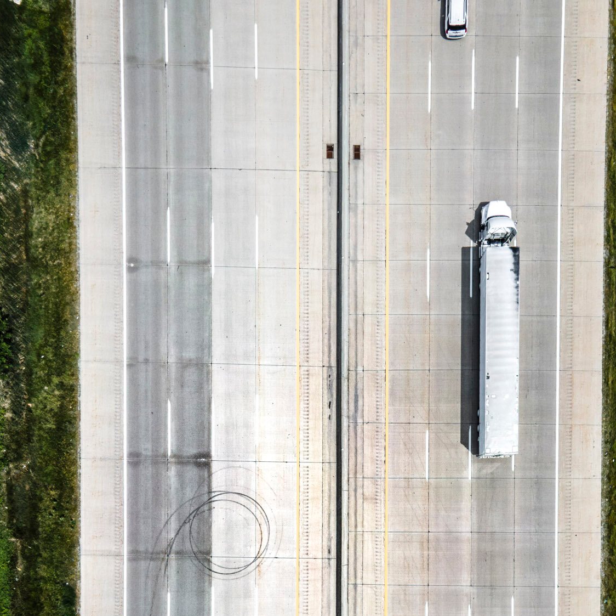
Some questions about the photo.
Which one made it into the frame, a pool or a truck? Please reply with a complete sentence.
There is a truck in the scene.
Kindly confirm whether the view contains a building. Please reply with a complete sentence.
No, I can see no building in this picture.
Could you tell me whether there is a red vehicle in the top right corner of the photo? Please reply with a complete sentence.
No, no red vehicle can be made out in the top right corner of the photo.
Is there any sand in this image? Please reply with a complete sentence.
No, no sand is visible.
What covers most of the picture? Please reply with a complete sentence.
The scene is dominated by paved ground.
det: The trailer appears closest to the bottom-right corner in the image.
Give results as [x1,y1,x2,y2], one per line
[476,246,520,461]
